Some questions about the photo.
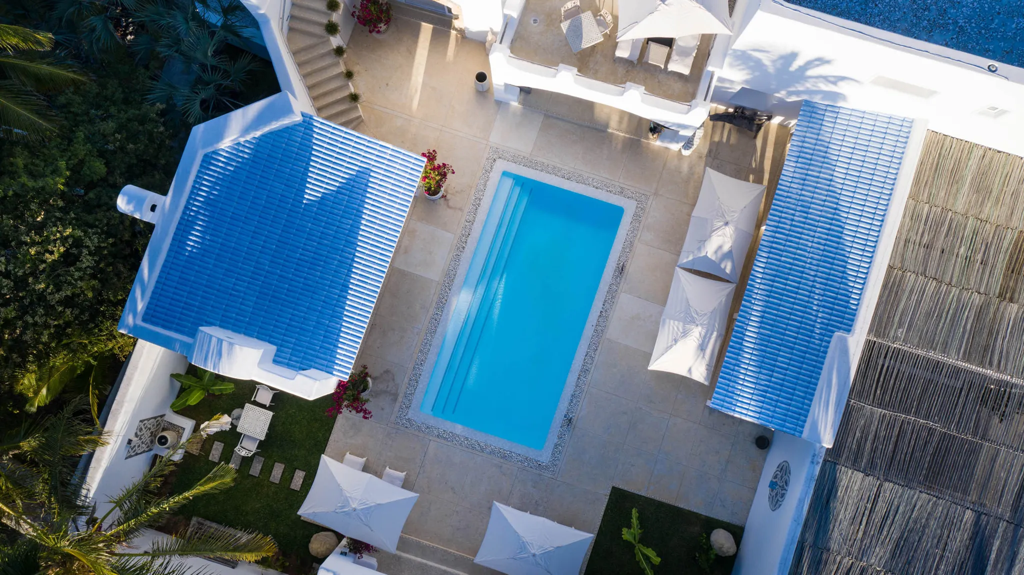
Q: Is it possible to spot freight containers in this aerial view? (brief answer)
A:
No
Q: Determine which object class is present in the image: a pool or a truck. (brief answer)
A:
pool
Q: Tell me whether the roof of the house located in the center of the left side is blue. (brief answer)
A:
Yes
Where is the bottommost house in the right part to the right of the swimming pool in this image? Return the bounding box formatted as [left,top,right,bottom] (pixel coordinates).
[708,101,929,445]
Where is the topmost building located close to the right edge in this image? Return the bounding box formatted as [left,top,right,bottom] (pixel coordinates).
[712,0,1024,194]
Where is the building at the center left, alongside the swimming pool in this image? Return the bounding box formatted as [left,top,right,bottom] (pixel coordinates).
[119,92,426,401]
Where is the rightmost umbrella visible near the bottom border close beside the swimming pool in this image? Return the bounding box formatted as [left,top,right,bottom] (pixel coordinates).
[473,501,594,575]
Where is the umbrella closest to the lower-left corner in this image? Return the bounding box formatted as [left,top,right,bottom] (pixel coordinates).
[298,454,419,554]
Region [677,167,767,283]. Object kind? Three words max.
umbrella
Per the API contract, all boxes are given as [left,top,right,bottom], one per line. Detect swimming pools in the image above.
[409,160,636,462]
